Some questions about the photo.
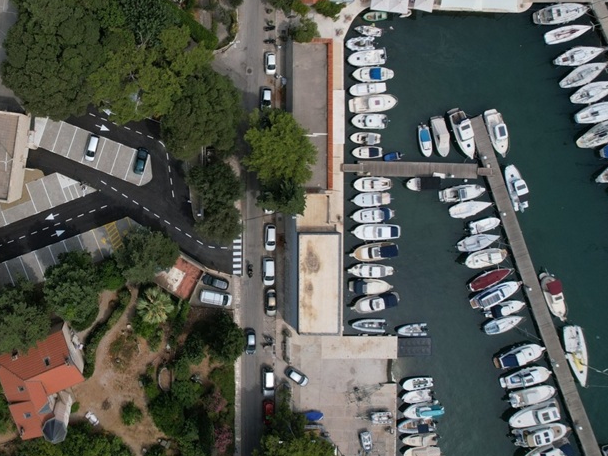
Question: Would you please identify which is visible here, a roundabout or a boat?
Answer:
boat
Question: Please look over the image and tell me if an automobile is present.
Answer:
Yes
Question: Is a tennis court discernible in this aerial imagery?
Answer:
No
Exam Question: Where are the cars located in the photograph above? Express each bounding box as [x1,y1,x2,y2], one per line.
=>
[264,51,277,77]
[133,146,149,177]
[200,273,230,291]
[283,366,309,387]
[260,86,273,112]
[261,365,275,396]
[244,328,257,353]
[263,223,277,252]
[263,204,275,217]
[262,396,273,422]
[84,133,101,162]
[264,287,278,316]
[262,256,275,285]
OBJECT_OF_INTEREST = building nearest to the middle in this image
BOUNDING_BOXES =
[287,228,341,335]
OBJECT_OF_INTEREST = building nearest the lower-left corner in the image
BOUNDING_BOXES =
[0,318,85,441]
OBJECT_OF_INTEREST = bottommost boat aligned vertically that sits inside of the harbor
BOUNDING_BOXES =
[361,430,374,456]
